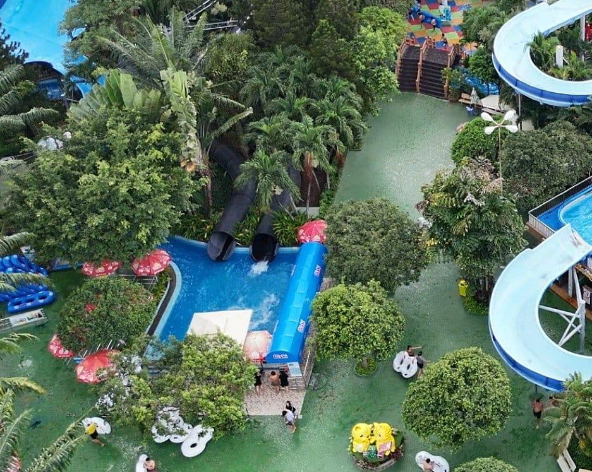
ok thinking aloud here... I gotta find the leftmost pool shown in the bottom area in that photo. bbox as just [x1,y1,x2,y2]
[136,229,298,374]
